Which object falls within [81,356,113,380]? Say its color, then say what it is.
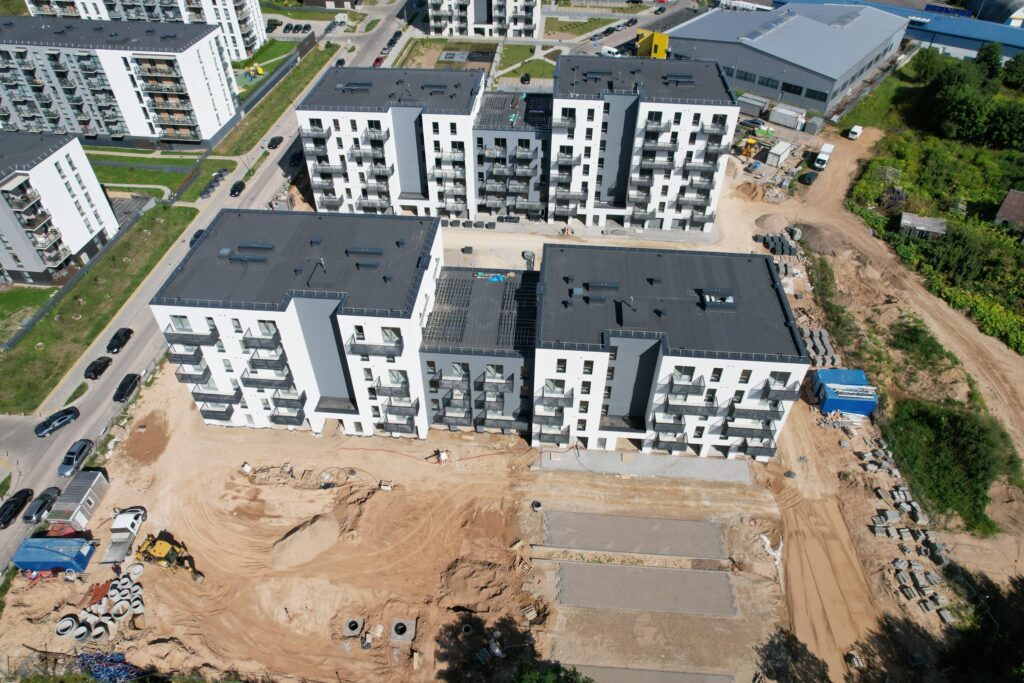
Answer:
black car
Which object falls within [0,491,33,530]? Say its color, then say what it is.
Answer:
black car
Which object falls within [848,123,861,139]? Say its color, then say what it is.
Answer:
white vehicle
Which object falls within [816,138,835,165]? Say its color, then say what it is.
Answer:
white vehicle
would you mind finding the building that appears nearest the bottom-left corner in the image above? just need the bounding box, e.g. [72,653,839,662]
[47,472,111,536]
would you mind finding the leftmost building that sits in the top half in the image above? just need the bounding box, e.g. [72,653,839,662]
[0,132,118,289]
